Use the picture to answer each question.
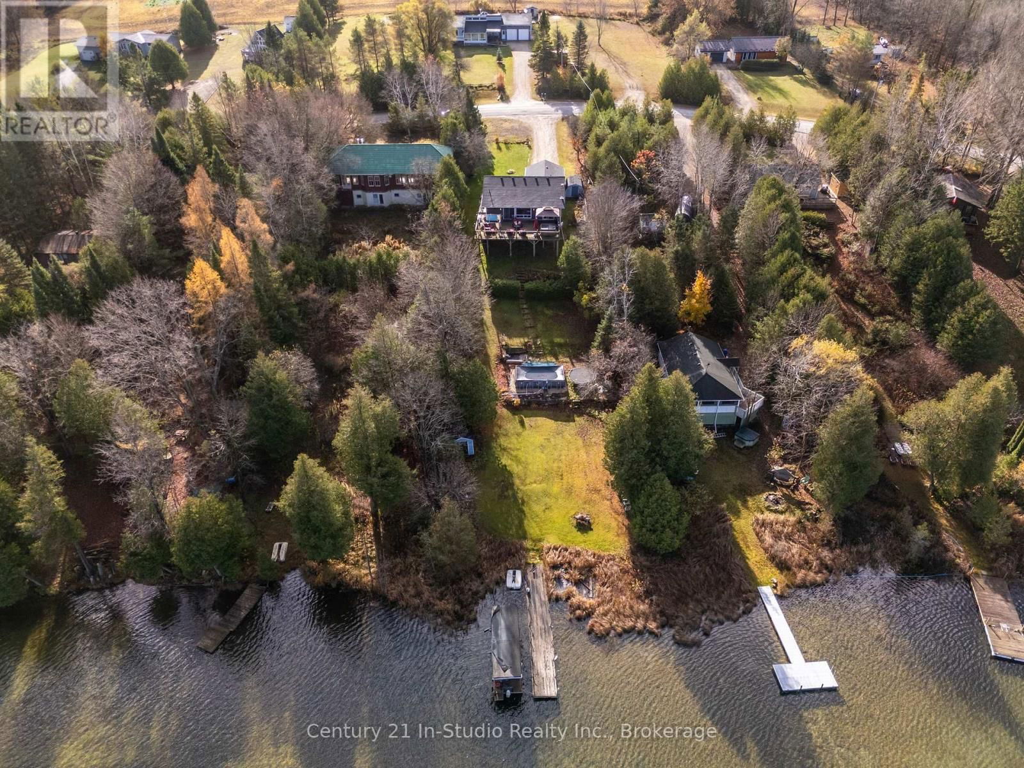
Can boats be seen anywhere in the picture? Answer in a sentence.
Yes, I can see a boat in this picture.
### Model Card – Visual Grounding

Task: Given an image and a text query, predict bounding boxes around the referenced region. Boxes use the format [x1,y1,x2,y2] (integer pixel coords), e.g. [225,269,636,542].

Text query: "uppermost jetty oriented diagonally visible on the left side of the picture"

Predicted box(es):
[209,583,266,633]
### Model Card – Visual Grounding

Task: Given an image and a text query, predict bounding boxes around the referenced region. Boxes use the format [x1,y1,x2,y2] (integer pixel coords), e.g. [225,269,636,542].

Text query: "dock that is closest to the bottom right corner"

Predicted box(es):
[969,575,1024,665]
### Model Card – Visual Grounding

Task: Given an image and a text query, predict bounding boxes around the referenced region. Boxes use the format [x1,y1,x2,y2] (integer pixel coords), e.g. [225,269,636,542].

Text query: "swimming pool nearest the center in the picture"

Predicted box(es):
[514,366,567,393]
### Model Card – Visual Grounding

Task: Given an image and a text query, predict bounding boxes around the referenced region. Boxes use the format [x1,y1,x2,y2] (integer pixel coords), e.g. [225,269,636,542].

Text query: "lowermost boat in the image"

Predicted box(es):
[484,609,523,705]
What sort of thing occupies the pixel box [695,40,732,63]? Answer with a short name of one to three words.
building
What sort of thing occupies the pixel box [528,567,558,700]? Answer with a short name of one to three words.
pier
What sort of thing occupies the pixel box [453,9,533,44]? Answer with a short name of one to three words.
house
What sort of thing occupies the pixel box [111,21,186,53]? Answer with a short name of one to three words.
house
